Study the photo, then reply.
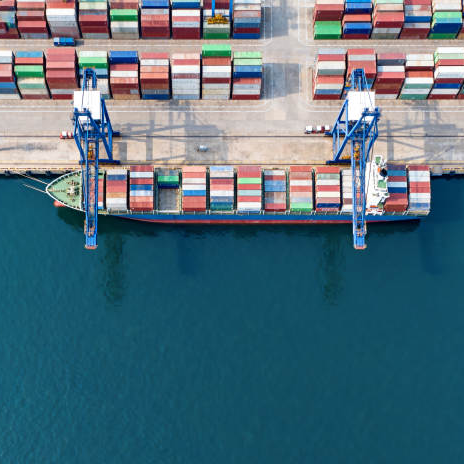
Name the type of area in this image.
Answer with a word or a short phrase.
port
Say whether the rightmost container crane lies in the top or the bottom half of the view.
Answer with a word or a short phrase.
top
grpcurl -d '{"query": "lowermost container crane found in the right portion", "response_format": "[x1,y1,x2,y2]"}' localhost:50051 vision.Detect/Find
[328,66,382,252]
